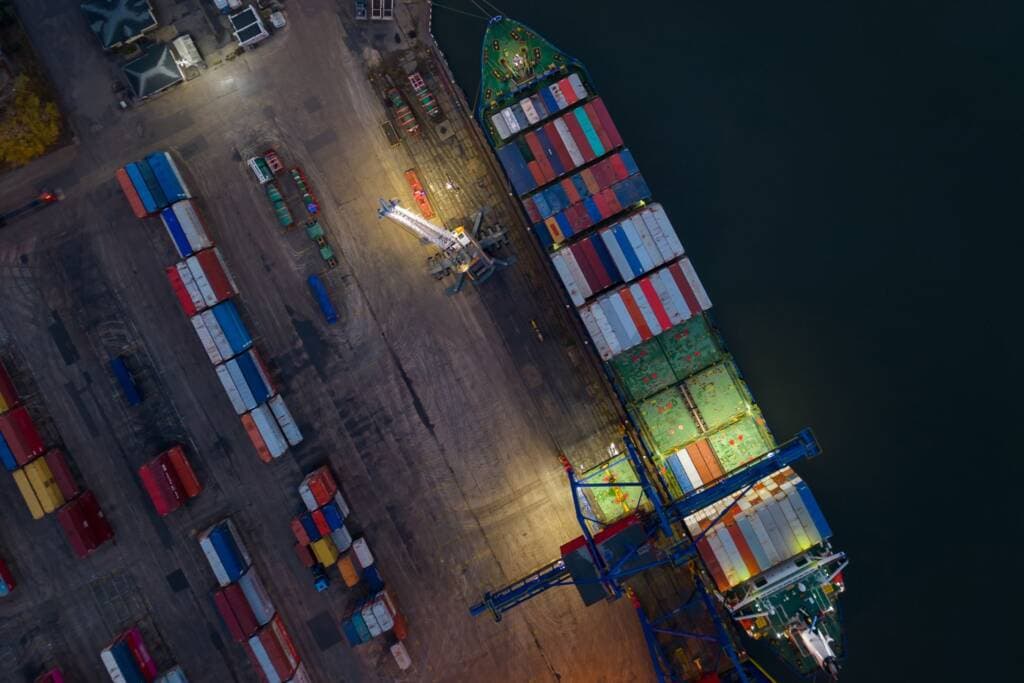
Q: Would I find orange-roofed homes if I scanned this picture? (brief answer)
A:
No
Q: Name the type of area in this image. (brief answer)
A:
port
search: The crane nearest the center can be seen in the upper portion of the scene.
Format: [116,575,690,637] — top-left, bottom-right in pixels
[375,197,518,297]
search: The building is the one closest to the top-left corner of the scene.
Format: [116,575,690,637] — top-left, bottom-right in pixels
[80,0,166,49]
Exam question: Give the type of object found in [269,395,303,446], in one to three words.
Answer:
shipping container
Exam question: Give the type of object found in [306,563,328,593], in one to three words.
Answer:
truck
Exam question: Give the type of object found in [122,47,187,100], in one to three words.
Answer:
house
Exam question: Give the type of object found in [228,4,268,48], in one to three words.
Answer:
shed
